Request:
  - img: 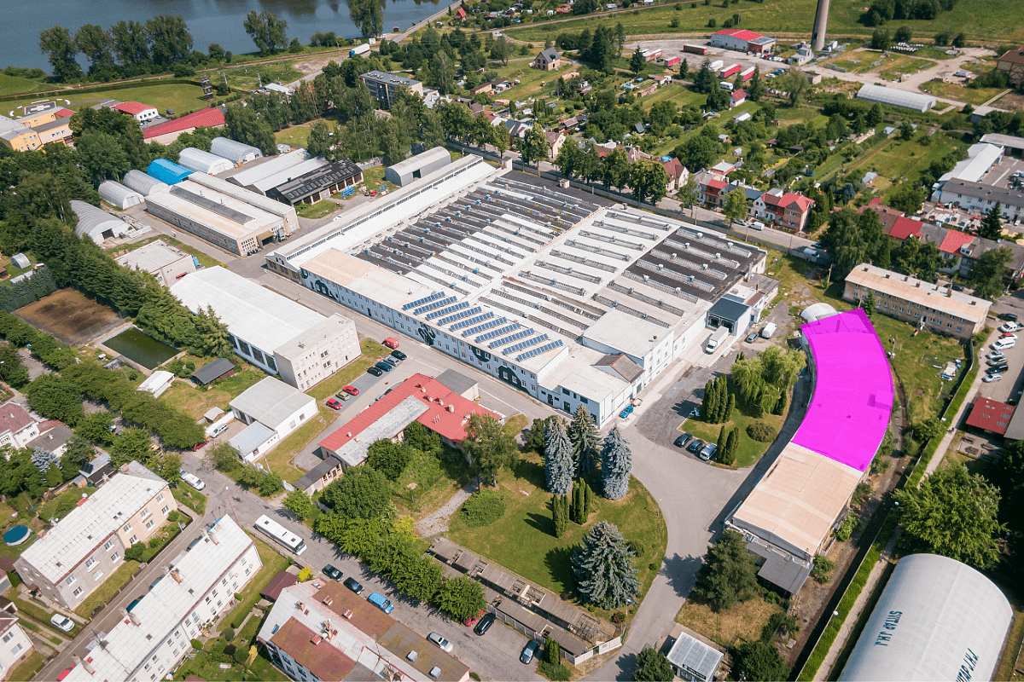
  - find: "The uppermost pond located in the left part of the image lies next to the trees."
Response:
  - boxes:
[97,324,177,372]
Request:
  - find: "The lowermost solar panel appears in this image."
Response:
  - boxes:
[74,459,102,481]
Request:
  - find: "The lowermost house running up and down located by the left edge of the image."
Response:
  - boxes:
[0,602,33,676]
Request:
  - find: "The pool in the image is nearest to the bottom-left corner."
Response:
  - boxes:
[0,521,31,544]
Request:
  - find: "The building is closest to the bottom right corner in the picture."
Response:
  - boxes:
[832,550,1015,682]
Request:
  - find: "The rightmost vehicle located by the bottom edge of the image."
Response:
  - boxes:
[518,638,541,667]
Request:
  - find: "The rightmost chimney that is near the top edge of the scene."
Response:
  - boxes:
[809,0,832,51]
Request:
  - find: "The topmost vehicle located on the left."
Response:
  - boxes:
[349,40,372,57]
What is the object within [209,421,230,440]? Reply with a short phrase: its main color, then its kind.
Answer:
white car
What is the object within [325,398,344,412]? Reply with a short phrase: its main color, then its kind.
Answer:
red car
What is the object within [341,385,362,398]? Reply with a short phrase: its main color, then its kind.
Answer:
red vehicle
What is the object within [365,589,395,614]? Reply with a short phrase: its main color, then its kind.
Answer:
blue vehicle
